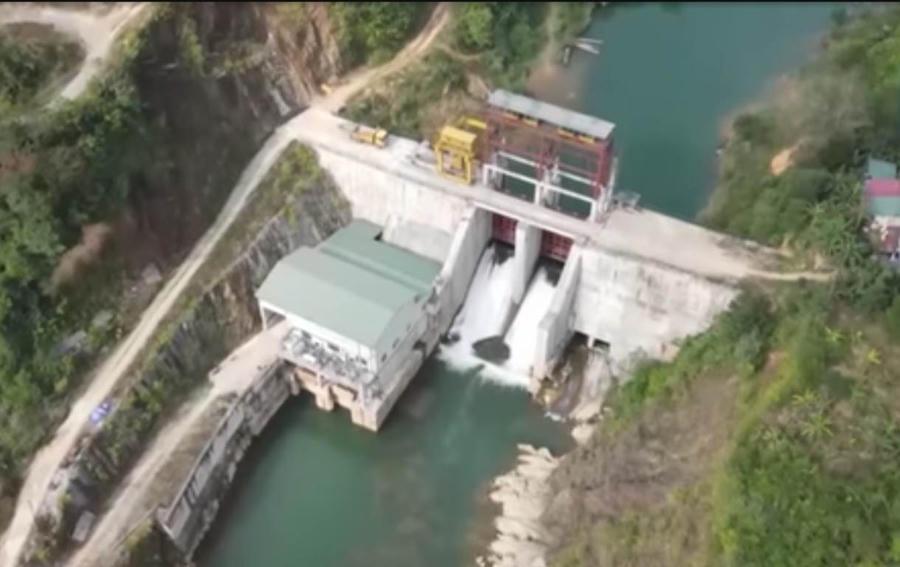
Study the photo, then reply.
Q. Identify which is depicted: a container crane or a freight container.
container crane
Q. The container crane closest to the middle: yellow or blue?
yellow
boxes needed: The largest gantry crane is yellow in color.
[433,123,490,190]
